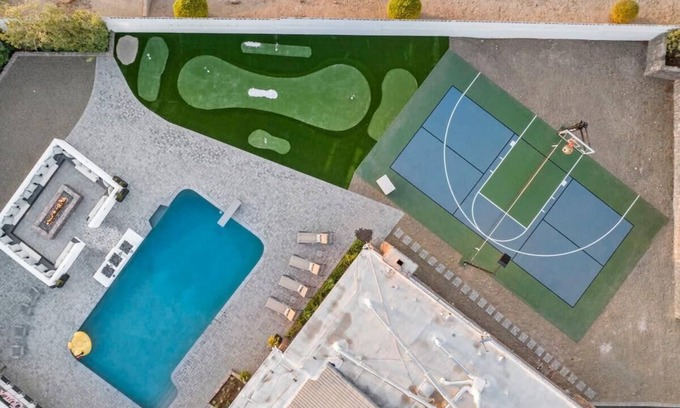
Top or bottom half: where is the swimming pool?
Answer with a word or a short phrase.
bottom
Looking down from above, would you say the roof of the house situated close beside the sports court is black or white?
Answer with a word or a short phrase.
white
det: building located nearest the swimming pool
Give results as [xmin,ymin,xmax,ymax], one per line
[229,243,591,408]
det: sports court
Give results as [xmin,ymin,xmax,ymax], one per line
[355,51,668,343]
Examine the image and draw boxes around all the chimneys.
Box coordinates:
[375,238,418,273]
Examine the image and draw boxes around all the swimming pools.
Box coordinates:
[72,185,268,408]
